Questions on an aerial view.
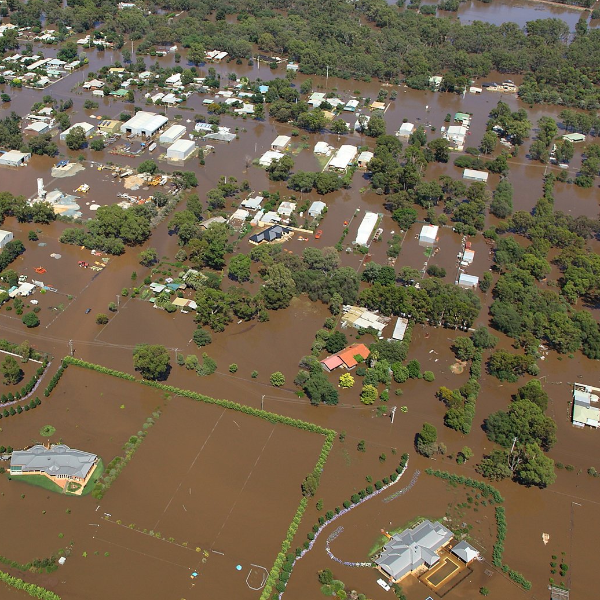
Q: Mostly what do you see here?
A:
water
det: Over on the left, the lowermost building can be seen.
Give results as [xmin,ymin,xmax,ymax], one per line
[9,443,97,495]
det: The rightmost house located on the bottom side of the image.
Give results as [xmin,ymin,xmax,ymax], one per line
[566,389,600,429]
